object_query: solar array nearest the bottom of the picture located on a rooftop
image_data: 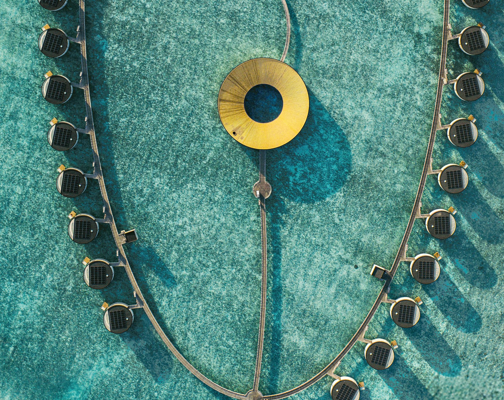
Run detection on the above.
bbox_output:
[335,382,355,400]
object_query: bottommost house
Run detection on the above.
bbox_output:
[331,375,366,400]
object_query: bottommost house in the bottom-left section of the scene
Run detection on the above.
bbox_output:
[102,299,134,332]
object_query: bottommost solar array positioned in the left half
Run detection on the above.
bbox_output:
[111,309,126,327]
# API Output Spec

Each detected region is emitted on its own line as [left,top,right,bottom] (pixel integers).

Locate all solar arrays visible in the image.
[433,214,447,231]
[445,169,461,187]
[64,172,80,191]
[398,303,414,321]
[76,218,91,237]
[54,126,71,146]
[454,121,470,141]
[335,382,355,400]
[461,75,479,95]
[465,29,483,50]
[91,265,105,282]
[44,32,62,52]
[418,259,432,277]
[49,79,65,98]
[371,343,388,364]
[111,309,126,327]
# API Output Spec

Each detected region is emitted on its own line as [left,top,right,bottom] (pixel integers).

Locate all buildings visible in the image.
[39,22,69,57]
[43,68,73,103]
[82,254,114,288]
[371,265,390,281]
[409,250,442,283]
[217,58,310,149]
[458,20,488,53]
[57,162,88,195]
[102,299,134,332]
[120,229,138,244]
[39,0,68,9]
[446,112,477,146]
[49,117,79,150]
[68,208,99,243]
[331,375,366,400]
[461,0,488,8]
[364,336,399,369]
[437,158,467,192]
[424,203,457,237]
[390,295,423,327]
[453,66,484,99]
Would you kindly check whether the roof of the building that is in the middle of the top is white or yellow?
yellow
